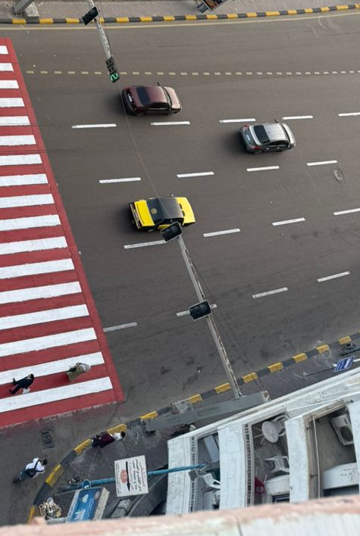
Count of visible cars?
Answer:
3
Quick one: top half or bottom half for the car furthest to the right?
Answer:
top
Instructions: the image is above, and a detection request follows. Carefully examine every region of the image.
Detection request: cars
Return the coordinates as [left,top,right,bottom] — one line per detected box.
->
[118,77,185,112]
[128,188,200,230]
[239,118,300,153]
